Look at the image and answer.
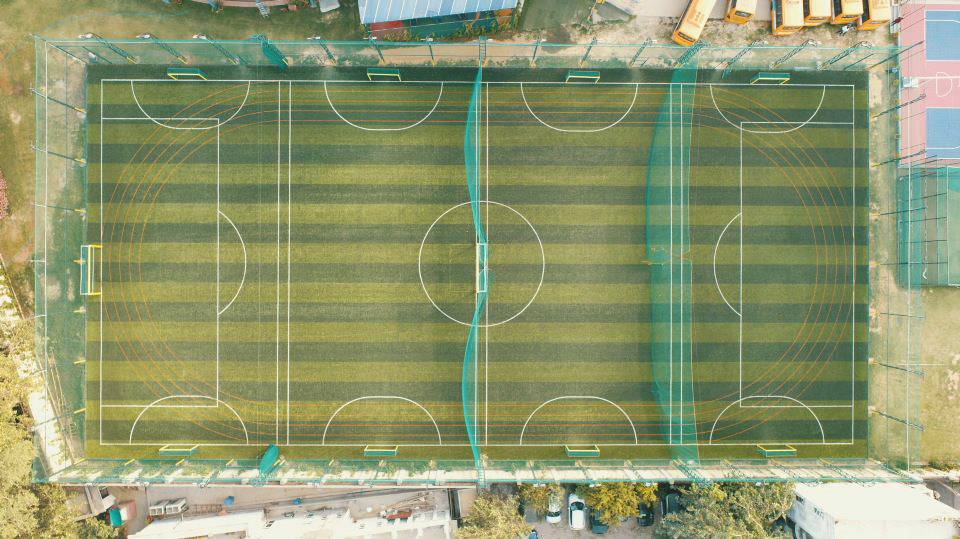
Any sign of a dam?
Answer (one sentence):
No, the picture doesn't show any dam.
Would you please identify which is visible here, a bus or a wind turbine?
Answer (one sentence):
This aerial view contains a bus.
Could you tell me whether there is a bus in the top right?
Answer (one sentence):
Yes, a bus is visible in the top right.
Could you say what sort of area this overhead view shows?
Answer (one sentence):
This looks like a sports ground.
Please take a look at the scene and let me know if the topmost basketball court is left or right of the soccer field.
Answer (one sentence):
The topmost basketball court appears to the right of the soccer field in this view.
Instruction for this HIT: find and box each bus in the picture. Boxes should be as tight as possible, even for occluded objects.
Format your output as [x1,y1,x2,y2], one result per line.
[831,0,863,24]
[801,0,831,27]
[857,0,891,31]
[670,0,714,50]
[727,0,758,25]
[772,0,803,37]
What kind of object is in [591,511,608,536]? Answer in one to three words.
car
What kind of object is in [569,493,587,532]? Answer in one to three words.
car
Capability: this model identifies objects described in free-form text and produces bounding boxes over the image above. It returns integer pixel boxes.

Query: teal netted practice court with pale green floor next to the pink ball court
[899,167,960,286]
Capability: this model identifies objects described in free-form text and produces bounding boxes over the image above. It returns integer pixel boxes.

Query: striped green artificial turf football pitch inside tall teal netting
[85,64,869,458]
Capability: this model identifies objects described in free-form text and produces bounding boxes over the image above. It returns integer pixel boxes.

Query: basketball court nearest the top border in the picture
[900,0,960,164]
